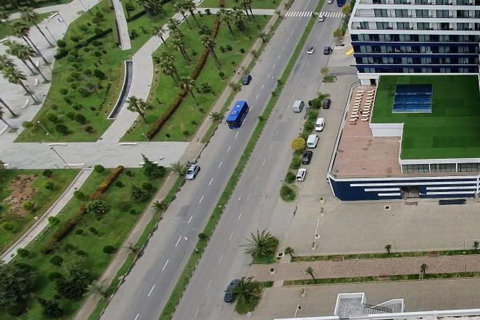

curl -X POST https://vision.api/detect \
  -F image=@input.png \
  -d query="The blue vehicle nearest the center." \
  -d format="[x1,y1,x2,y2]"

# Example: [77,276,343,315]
[223,100,251,131]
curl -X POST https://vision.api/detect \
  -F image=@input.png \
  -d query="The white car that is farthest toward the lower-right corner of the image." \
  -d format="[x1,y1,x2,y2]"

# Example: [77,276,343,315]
[295,168,307,182]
